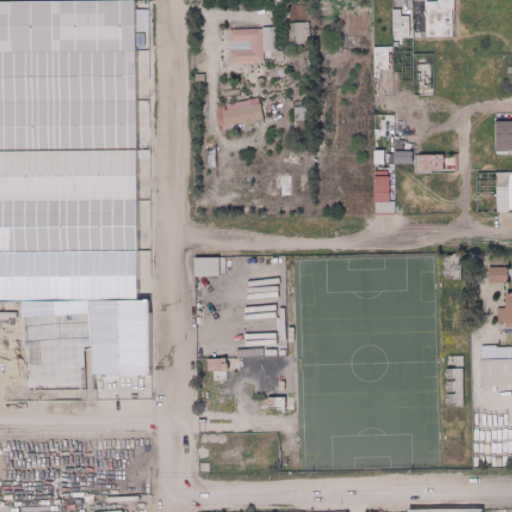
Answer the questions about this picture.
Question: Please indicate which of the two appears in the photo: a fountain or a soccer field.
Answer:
soccer field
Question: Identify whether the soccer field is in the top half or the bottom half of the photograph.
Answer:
bottom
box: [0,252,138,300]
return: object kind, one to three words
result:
building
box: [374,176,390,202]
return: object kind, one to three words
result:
barn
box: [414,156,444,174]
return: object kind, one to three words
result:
house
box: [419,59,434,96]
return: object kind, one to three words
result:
house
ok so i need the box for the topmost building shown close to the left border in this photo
[0,1,137,150]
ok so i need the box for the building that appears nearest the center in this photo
[195,258,219,277]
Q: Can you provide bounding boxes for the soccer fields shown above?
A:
[298,254,442,470]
